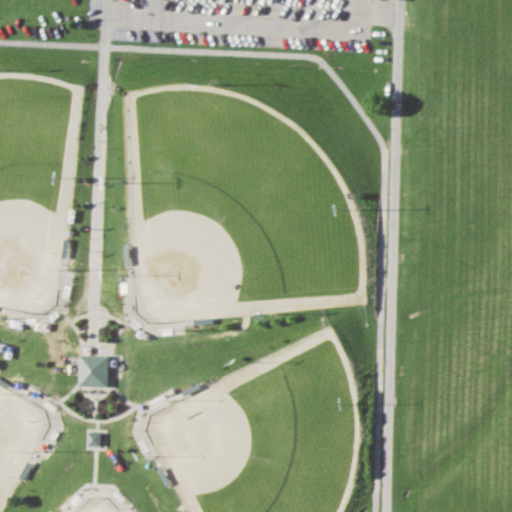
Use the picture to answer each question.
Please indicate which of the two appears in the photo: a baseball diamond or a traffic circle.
baseball diamond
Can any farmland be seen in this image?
Yes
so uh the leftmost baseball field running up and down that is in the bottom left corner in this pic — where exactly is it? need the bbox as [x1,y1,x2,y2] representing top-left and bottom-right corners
[0,389,48,512]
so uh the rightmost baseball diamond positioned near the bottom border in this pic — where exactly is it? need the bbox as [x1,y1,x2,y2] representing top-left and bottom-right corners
[147,326,360,512]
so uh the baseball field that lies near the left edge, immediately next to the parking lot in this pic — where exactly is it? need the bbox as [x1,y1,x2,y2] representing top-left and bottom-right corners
[0,72,83,313]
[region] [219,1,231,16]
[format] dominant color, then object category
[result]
white vehicle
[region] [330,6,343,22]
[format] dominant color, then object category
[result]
white vehicle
